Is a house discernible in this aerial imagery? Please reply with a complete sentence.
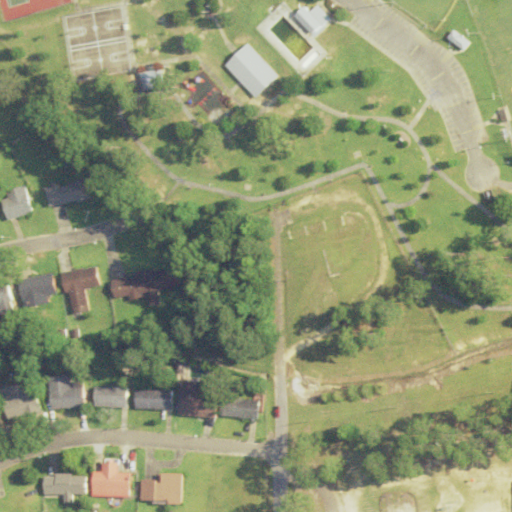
Yes, this view includes a house.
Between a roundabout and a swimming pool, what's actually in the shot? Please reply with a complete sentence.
There is a swimming pool in the scene.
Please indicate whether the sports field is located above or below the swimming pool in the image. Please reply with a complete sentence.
Relative to the swimming pool, the sports field lies below it.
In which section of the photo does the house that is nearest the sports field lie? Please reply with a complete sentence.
The house that is nearest the sports field appears toward the bottom of the photo.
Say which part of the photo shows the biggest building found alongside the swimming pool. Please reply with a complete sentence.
The biggest building found alongside the swimming pool appears toward the top of the photo.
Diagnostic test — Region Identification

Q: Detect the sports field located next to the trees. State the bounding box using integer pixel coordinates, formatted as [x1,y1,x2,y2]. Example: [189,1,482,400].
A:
[284,192,386,365]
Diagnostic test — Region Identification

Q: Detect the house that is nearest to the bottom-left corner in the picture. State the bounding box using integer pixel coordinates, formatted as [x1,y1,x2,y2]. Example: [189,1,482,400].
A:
[42,475,88,502]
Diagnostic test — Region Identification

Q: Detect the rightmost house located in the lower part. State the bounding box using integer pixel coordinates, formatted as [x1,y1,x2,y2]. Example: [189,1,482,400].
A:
[219,398,262,418]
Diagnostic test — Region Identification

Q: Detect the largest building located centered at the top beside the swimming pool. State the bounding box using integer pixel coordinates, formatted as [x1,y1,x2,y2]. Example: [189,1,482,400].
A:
[224,44,278,98]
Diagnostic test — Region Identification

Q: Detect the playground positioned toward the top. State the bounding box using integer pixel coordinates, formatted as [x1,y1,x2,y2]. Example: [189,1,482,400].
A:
[186,72,225,114]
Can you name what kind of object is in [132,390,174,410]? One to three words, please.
house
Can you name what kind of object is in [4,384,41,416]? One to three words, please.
house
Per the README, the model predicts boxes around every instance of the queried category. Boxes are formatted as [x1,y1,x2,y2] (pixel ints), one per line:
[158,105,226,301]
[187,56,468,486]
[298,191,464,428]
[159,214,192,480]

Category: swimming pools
[258,2,327,76]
